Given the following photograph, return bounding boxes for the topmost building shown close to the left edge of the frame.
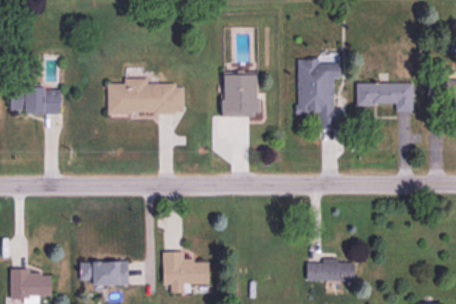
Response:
[10,88,62,116]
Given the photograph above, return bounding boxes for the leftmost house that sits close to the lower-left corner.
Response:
[10,268,52,300]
